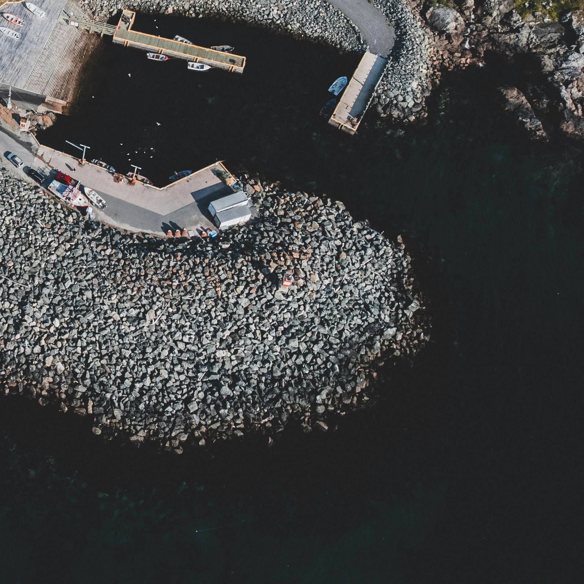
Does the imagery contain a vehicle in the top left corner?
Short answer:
Yes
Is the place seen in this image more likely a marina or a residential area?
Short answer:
marina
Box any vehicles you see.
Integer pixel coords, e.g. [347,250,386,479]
[55,170,82,187]
[25,165,47,182]
[5,149,26,167]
